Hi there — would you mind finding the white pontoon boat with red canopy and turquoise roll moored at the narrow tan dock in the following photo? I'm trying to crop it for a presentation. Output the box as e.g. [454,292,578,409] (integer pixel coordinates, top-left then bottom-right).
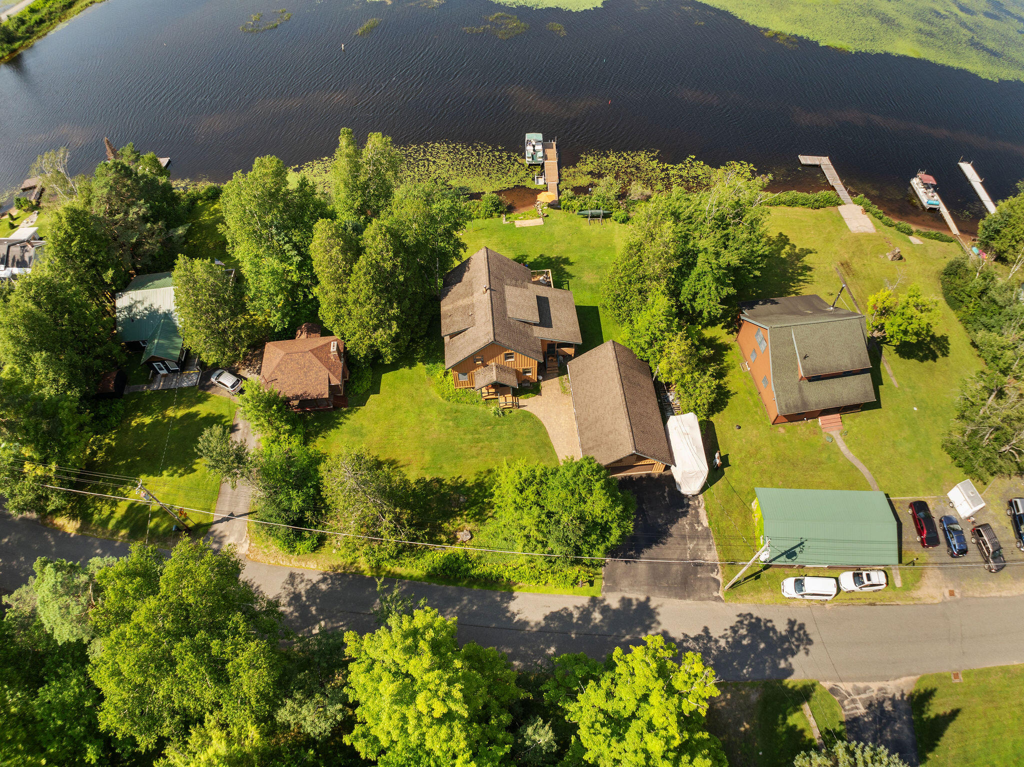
[908,173,943,211]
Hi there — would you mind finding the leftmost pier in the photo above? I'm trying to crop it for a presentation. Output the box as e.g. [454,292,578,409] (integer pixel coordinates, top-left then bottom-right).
[20,175,44,202]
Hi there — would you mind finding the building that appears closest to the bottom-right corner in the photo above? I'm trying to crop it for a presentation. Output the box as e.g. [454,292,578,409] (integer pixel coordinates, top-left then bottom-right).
[751,488,901,570]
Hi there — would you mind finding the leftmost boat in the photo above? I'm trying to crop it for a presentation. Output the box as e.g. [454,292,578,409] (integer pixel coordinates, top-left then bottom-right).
[525,132,543,168]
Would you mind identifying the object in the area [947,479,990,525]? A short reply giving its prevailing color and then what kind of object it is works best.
white trailer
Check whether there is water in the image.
Yes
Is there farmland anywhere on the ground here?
No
